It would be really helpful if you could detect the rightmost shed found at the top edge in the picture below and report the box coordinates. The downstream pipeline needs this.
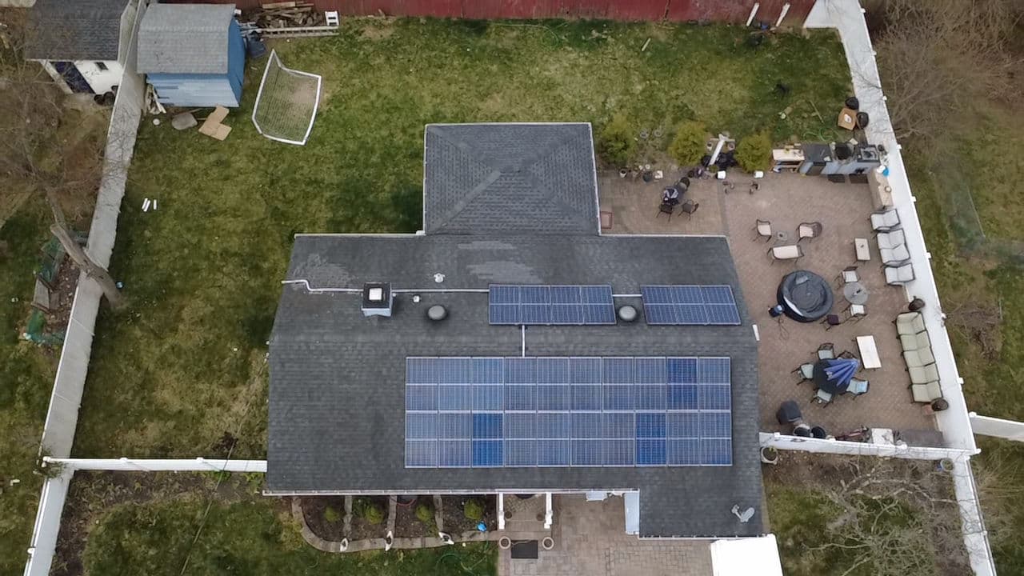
[140,6,249,106]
